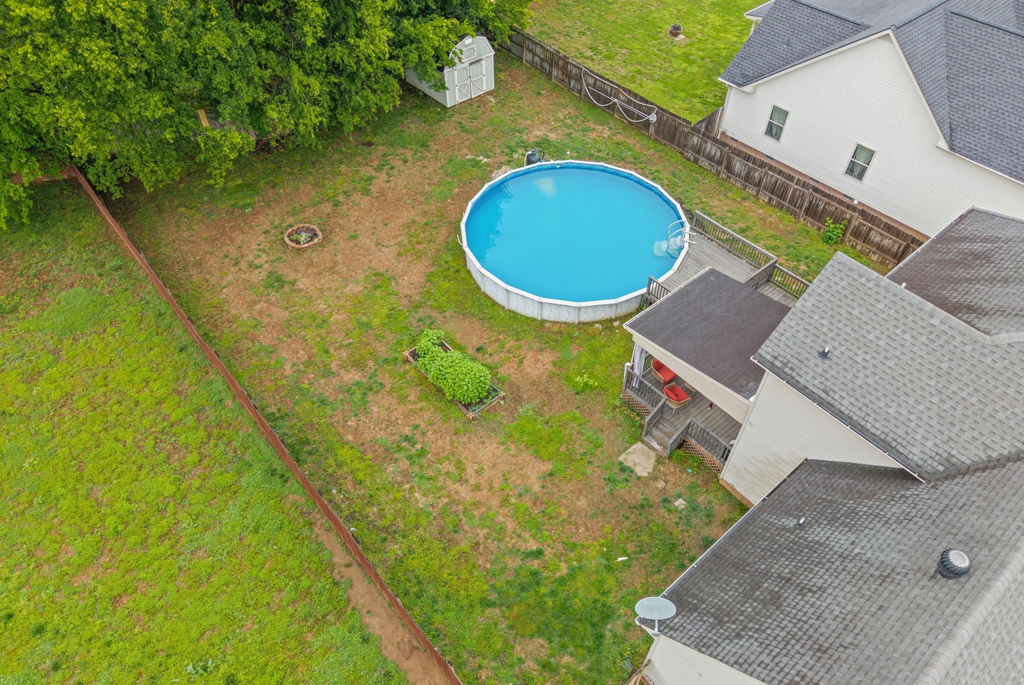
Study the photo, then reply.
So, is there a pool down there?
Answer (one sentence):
Yes, a pool can be made out from above.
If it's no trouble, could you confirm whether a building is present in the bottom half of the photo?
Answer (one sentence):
Yes, a building appears in the bottom half of the photo.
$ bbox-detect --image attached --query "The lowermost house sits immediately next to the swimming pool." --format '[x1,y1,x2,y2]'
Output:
[628,206,1024,685]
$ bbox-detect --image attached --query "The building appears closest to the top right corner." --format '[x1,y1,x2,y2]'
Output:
[714,0,1024,242]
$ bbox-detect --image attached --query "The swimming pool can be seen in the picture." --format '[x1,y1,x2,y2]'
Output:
[460,160,691,323]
